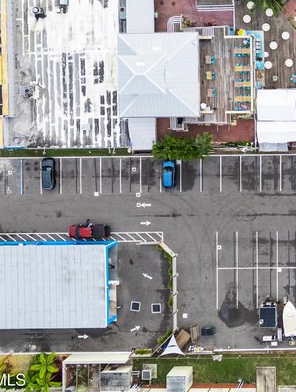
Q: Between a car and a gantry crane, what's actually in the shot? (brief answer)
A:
car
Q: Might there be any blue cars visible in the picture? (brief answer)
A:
Yes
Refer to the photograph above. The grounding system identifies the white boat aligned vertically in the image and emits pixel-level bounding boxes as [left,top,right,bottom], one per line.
[282,293,296,344]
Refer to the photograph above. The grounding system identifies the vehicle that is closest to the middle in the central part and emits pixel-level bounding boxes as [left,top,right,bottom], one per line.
[161,160,177,189]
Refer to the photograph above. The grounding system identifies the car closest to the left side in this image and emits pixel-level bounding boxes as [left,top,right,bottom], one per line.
[39,158,57,190]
